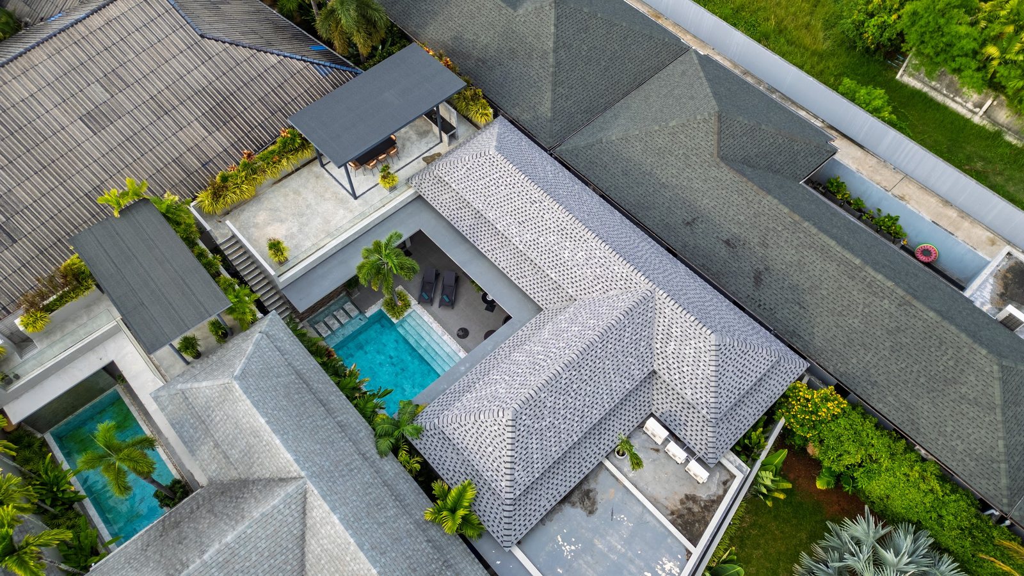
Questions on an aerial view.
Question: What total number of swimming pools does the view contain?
2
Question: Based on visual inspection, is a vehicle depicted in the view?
No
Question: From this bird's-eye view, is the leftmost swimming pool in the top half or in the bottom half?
bottom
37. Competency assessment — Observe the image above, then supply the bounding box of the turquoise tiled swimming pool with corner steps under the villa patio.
[304,271,469,411]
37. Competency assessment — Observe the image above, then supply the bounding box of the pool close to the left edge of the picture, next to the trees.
[43,379,201,556]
